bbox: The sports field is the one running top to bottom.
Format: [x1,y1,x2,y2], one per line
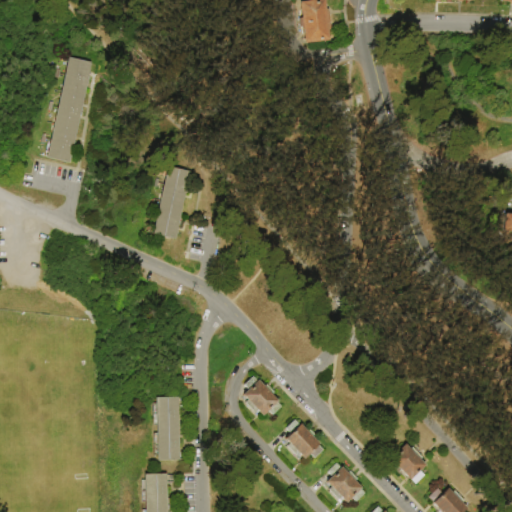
[0,310,99,512]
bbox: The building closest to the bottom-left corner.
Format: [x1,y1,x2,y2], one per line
[142,474,173,512]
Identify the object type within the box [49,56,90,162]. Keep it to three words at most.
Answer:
building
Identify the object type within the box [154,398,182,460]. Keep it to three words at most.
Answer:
building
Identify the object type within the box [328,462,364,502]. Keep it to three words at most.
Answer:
house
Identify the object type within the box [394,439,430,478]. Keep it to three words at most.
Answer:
house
